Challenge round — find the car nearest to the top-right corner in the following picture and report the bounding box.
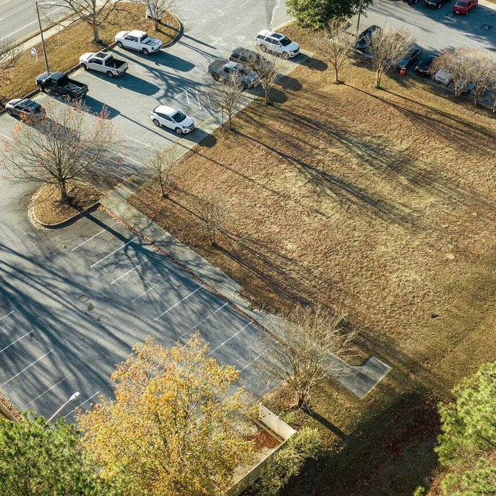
[449,0,480,17]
